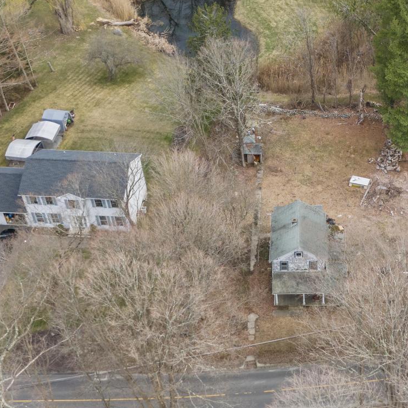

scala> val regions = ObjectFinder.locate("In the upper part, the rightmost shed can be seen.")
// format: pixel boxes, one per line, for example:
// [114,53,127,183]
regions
[242,139,264,164]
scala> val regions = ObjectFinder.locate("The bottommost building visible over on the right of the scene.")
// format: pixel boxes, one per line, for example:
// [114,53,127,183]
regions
[269,194,347,315]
